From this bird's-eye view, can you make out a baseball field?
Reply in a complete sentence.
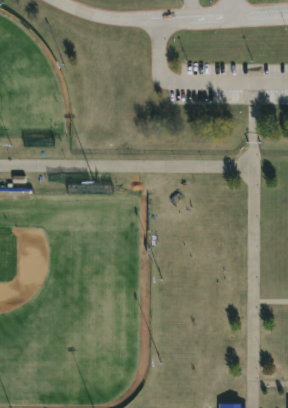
Yes, I can see a baseball field in this picture.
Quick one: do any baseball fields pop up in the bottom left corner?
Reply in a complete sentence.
Yes, a baseball field is visible in the bottom left corner.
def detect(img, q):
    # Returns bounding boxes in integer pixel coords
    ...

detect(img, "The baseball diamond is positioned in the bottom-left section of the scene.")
[0,191,148,408]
